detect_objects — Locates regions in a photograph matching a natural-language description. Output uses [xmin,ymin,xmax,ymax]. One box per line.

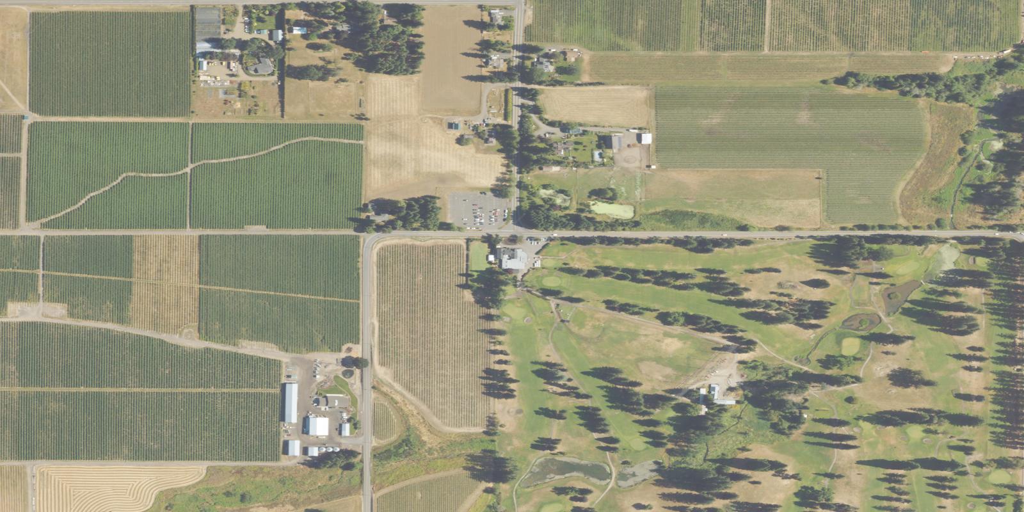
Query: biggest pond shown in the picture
[519,455,610,488]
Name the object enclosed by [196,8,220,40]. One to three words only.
house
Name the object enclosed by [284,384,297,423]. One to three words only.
barn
